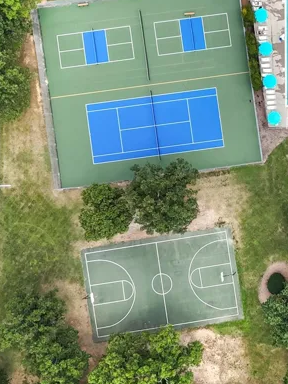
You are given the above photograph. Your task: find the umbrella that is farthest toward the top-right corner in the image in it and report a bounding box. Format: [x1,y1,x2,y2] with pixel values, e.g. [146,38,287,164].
[254,8,268,23]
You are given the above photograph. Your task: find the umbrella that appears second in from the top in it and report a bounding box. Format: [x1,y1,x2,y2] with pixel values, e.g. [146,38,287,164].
[259,42,273,56]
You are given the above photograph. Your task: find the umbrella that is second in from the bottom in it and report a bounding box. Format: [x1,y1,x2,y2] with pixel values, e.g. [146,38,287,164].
[263,73,277,88]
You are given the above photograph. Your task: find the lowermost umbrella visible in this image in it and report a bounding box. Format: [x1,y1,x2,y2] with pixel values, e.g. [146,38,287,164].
[266,111,280,125]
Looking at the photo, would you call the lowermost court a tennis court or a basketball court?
basketball court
